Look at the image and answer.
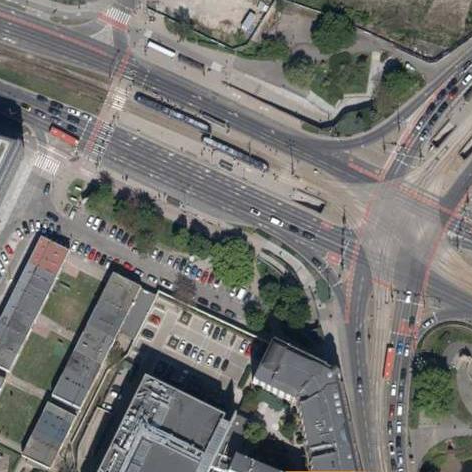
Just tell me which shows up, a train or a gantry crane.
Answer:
train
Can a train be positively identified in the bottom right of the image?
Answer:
No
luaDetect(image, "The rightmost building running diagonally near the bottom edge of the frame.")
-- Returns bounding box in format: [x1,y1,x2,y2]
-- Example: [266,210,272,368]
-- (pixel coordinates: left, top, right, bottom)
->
[252,335,364,472]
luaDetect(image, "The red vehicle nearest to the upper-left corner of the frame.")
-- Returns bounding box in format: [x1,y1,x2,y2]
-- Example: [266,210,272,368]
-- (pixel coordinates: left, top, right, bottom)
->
[49,126,79,145]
